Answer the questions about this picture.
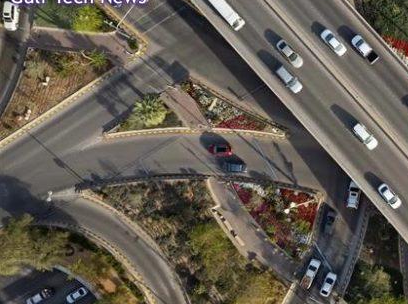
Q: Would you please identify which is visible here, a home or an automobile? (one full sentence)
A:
Looking from above, you can make out an automobile.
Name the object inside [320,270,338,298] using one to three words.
car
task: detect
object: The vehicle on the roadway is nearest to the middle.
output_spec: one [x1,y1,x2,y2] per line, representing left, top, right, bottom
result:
[208,144,233,156]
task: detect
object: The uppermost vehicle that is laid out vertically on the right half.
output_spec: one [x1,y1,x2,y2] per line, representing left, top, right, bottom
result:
[346,180,359,210]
